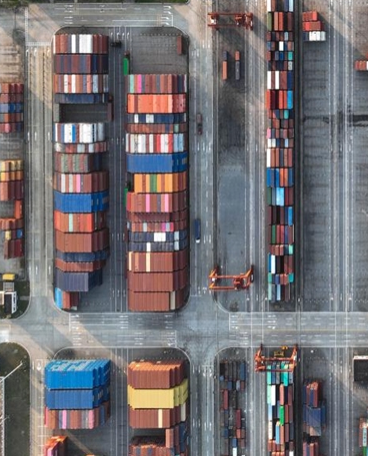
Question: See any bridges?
No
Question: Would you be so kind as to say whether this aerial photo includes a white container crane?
No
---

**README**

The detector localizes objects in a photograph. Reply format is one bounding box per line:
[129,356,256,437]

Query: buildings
[2,290,16,312]
[354,354,368,384]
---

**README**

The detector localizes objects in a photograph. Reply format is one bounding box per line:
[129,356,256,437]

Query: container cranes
[206,12,253,33]
[206,264,253,292]
[254,340,299,373]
